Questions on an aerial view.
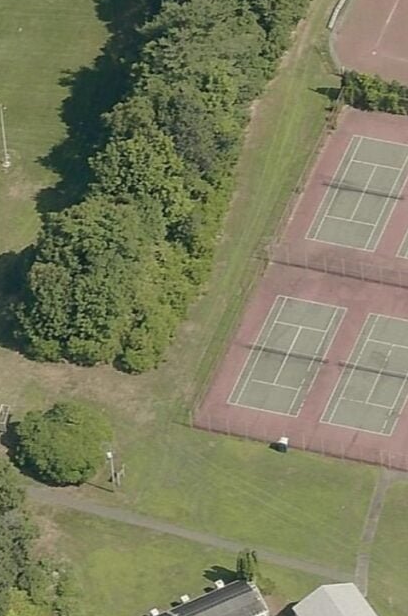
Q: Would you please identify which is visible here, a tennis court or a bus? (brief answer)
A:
tennis court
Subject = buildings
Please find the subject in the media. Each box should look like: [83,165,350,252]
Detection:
[160,579,265,616]
[292,582,377,616]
